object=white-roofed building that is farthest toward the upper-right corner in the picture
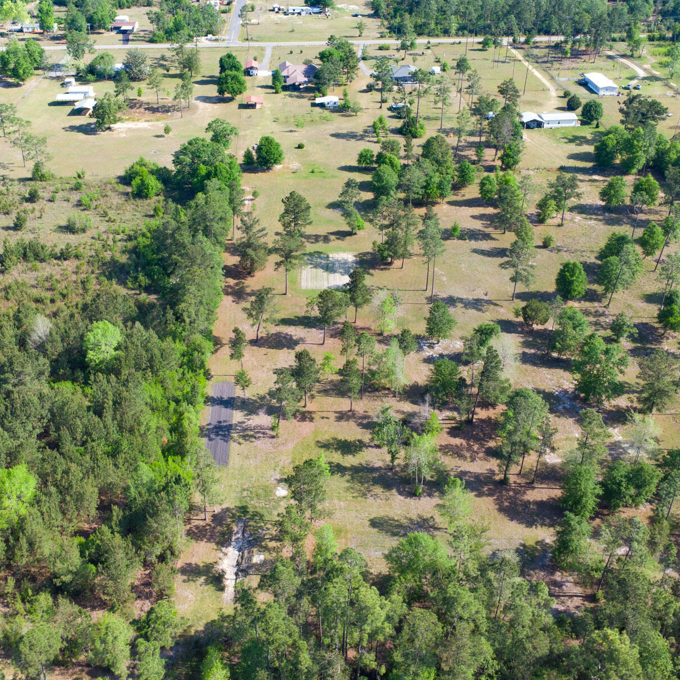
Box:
[584,72,619,95]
